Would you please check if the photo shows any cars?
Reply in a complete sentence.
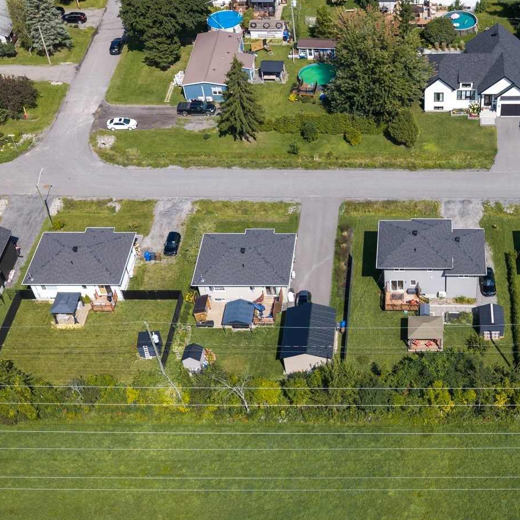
Yes, I can see a car in this picture.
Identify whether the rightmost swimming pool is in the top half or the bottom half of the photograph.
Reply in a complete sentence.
The top half of the photo is where the rightmost swimming pool is.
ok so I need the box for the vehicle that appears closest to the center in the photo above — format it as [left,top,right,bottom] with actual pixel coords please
[294,282,315,306]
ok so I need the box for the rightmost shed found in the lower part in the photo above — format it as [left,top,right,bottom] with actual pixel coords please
[478,303,505,337]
